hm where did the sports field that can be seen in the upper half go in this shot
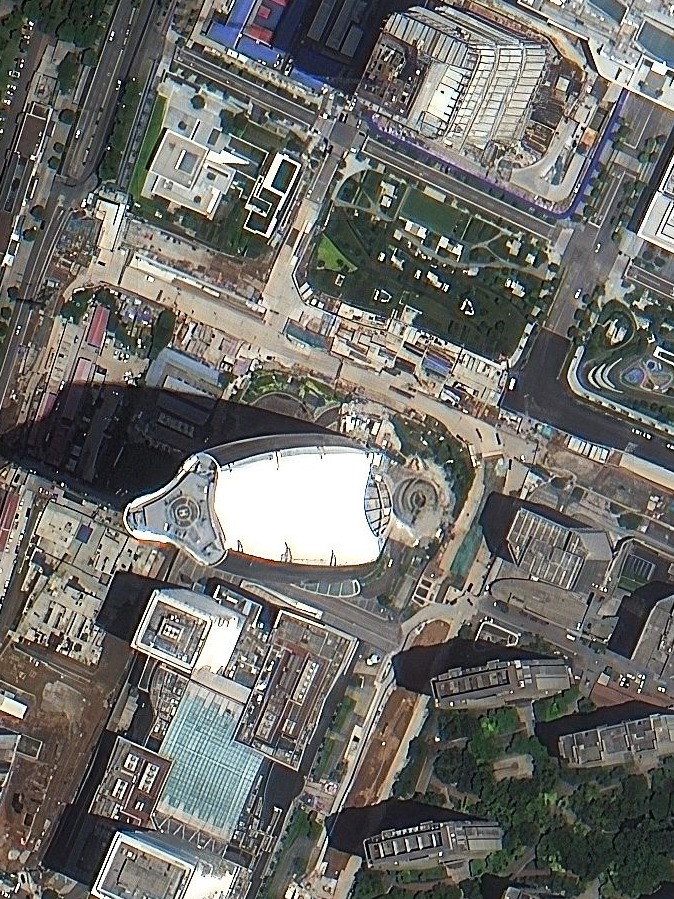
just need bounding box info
[400,188,471,241]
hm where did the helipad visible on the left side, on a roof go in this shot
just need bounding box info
[168,494,200,529]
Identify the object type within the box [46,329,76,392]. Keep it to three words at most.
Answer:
shed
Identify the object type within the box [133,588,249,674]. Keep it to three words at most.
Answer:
building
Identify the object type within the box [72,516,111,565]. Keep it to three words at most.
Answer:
building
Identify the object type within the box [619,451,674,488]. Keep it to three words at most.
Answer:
shed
